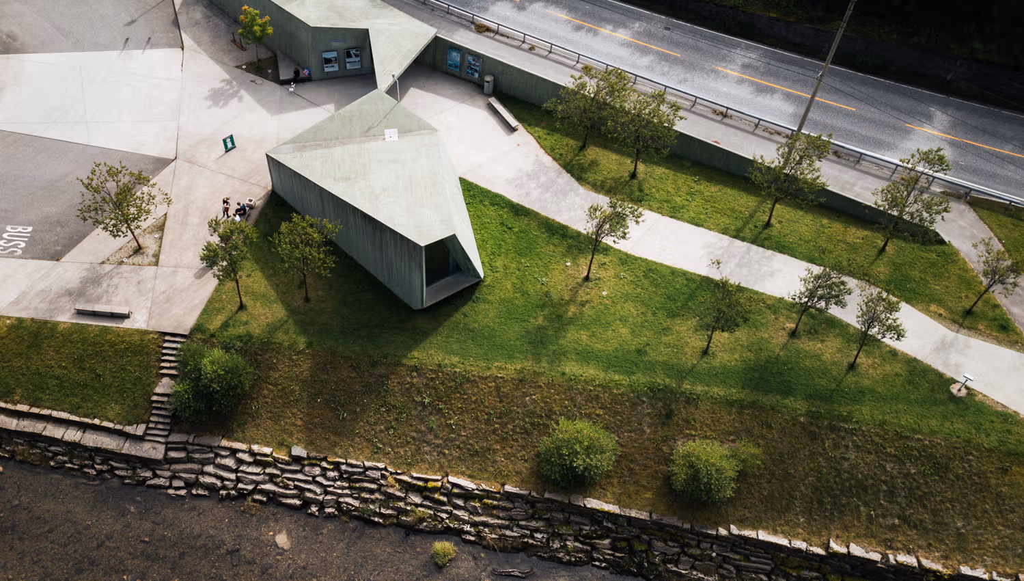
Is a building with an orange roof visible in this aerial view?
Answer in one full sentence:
No, I find no building with an orange roof anywhere in the image.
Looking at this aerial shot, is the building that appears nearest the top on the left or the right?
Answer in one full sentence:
The building that appears nearest the top is on the left side of the image.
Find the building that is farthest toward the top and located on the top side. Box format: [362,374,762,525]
[211,0,437,95]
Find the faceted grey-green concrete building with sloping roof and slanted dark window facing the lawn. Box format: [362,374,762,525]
[267,90,482,309]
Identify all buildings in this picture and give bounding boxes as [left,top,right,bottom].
[211,0,437,95]
[267,90,482,309]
